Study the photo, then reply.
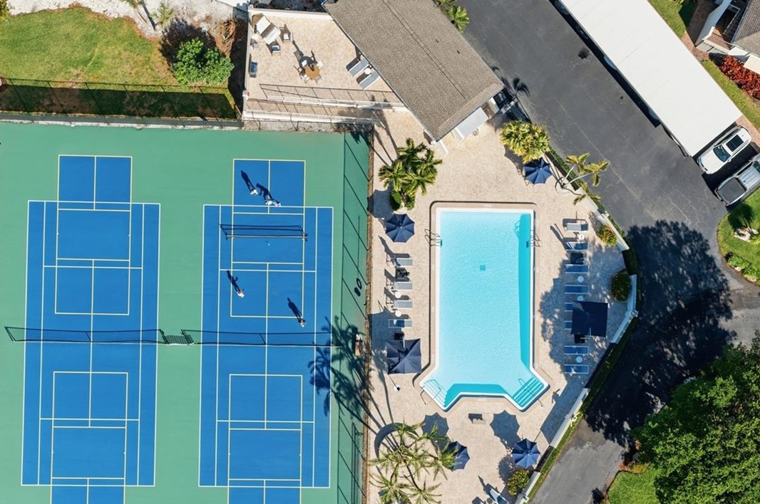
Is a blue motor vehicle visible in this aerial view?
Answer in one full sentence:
No, I can see no blue motor vehicle in this picture.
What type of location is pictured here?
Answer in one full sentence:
The area seen from above is a sports ground.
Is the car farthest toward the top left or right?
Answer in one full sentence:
The car farthest toward the top sits on the right side.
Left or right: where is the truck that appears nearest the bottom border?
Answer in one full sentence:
You can find the truck that appears nearest the bottom border on the right side of the picture.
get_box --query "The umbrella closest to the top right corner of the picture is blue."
[524,157,552,186]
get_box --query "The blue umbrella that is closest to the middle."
[384,214,415,243]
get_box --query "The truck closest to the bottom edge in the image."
[713,154,760,208]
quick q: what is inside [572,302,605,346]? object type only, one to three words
umbrella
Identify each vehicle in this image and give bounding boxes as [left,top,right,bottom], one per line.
[696,126,750,175]
[713,154,760,208]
